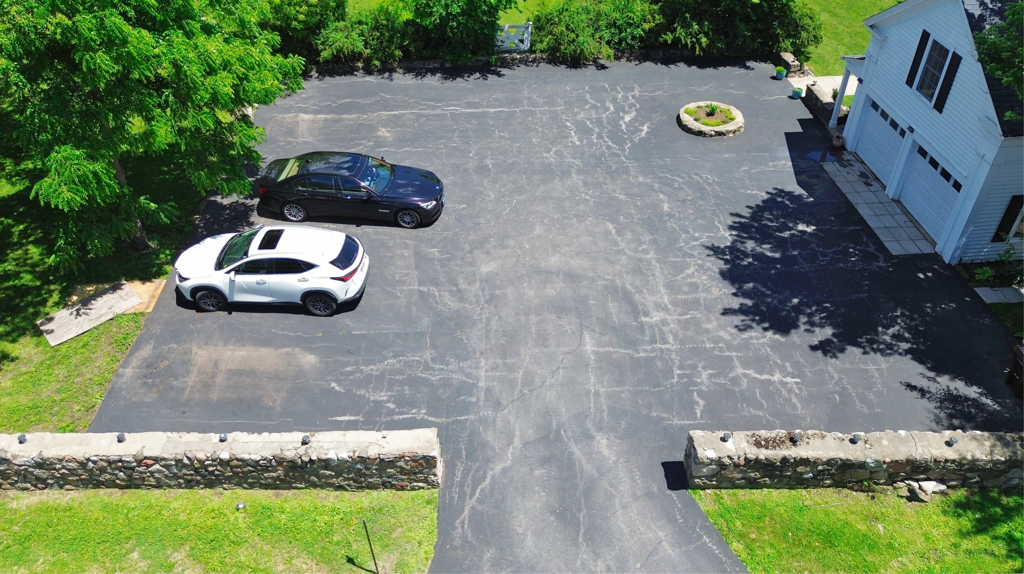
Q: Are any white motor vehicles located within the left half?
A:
Yes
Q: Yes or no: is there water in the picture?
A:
No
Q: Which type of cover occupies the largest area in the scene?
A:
paved ground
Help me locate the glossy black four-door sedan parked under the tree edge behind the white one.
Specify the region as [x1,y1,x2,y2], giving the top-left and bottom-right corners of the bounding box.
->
[258,151,447,227]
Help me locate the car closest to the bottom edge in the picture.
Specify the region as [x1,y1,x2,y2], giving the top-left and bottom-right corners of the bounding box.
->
[174,220,372,315]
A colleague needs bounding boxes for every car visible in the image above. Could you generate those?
[174,220,372,315]
[258,151,447,227]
